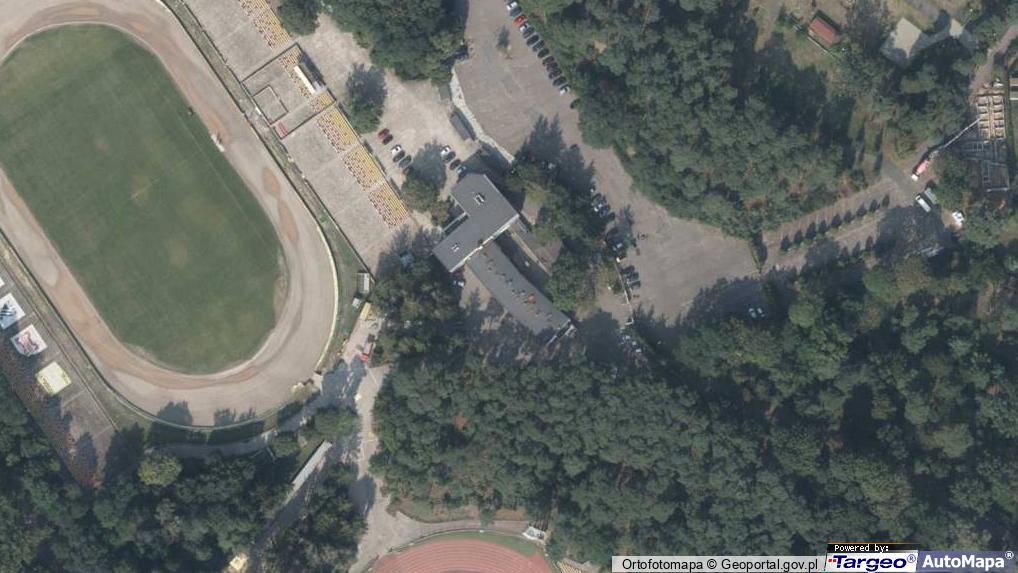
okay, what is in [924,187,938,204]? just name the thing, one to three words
vehicle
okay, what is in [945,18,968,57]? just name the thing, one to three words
building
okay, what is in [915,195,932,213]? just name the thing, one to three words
vehicle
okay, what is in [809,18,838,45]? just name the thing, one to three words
house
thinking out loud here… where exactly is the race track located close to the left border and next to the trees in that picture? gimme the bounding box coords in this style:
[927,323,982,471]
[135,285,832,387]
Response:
[0,0,336,426]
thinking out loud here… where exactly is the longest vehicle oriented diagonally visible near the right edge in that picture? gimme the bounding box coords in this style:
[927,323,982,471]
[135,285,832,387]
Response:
[912,116,981,180]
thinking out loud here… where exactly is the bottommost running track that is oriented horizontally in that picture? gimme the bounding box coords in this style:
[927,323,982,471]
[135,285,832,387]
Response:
[375,531,557,573]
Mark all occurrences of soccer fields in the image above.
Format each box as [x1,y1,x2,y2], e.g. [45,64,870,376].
[0,22,286,374]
